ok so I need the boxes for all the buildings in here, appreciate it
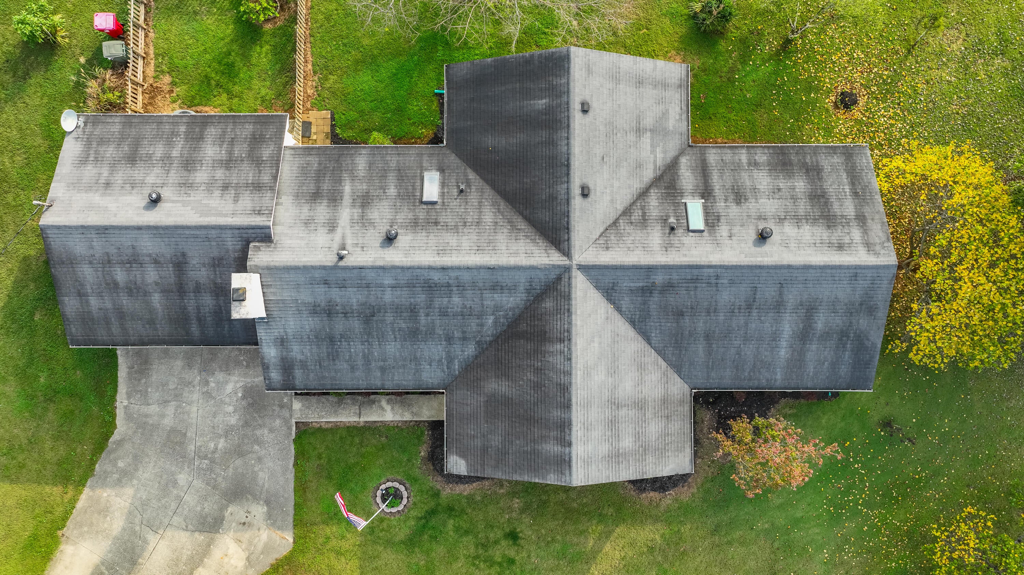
[31,46,898,487]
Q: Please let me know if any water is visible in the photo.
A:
No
